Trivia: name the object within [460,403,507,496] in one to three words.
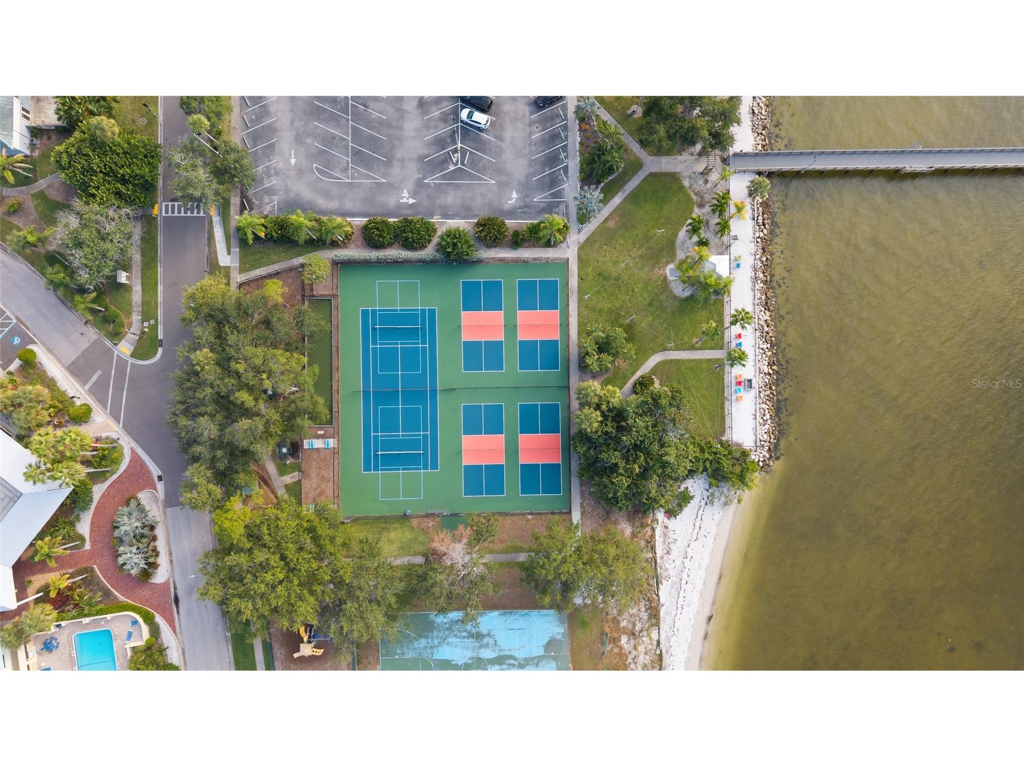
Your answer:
sports court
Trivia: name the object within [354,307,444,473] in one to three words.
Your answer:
tennis court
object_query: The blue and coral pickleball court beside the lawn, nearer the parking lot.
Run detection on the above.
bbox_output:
[516,278,563,371]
